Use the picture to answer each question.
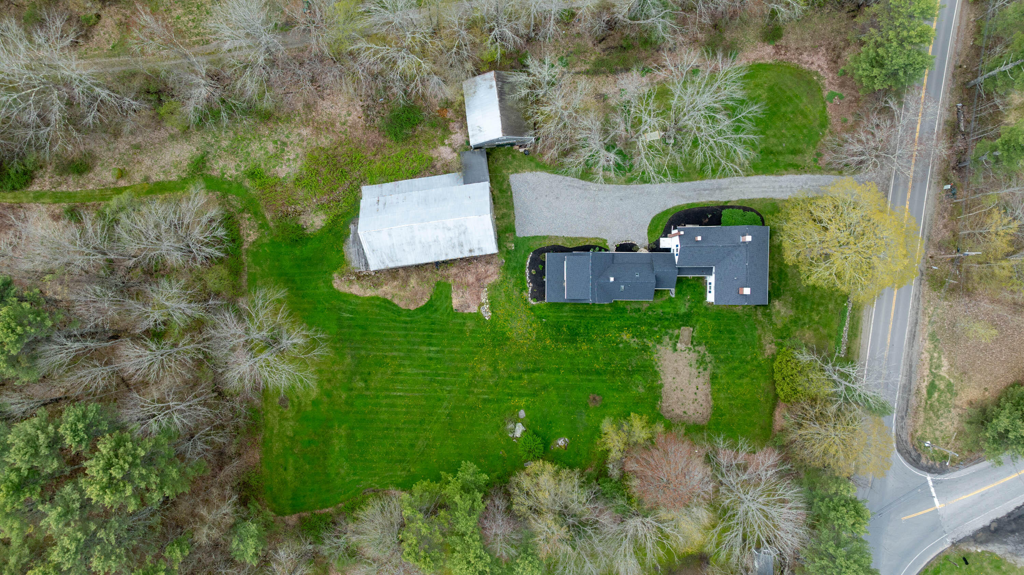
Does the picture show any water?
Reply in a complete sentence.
No, there's no water in this view.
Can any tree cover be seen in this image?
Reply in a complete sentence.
Yes, the picture does contain tree cover.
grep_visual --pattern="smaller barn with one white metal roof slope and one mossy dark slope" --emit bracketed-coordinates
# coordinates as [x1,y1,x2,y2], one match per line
[462,70,534,149]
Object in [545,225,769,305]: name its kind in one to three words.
house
